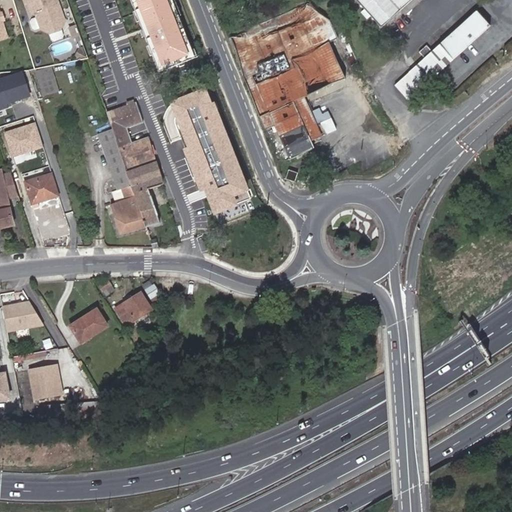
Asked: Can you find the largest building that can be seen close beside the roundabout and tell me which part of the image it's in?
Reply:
top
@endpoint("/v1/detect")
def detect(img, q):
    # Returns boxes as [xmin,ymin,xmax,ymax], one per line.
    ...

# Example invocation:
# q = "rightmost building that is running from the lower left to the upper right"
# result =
[441,10,491,62]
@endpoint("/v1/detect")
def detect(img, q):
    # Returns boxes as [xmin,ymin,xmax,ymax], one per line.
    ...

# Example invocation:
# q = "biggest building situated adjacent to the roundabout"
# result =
[232,4,345,160]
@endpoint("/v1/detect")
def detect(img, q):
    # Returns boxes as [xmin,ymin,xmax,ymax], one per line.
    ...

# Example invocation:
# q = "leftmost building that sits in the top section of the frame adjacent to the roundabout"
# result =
[164,90,254,221]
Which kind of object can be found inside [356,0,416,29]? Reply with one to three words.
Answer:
building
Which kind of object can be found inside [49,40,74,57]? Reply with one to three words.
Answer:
swimming pool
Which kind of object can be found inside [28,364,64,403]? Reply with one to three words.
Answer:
house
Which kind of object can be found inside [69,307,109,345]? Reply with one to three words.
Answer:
house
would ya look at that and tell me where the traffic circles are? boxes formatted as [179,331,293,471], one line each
[298,180,411,440]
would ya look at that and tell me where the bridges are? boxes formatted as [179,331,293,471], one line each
[383,310,430,512]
